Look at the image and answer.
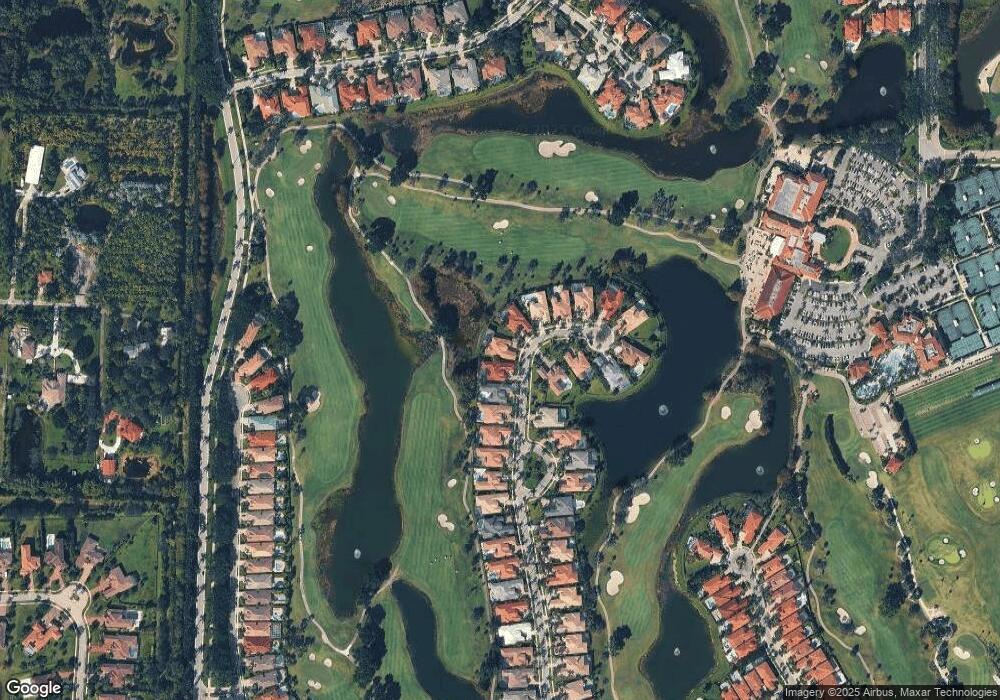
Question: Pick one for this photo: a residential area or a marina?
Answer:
residential area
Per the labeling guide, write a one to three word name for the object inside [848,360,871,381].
building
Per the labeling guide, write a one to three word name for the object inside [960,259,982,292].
tennis court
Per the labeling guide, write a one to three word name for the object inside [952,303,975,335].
tennis court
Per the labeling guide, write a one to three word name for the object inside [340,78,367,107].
house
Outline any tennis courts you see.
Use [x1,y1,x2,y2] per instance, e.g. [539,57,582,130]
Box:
[973,255,995,288]
[970,175,996,210]
[952,303,975,335]
[986,289,1000,323]
[973,294,996,328]
[985,169,1000,205]
[950,334,984,357]
[960,259,982,292]
[964,218,986,251]
[938,308,962,340]
[951,223,974,255]
[985,250,1000,283]
[954,181,980,216]
[984,211,1000,244]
